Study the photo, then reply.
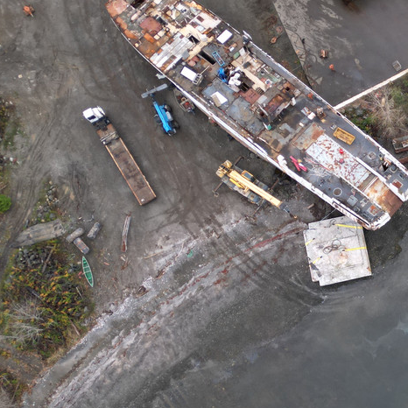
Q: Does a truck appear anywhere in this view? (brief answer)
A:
Yes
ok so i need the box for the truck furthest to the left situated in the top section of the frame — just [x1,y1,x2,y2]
[82,106,155,205]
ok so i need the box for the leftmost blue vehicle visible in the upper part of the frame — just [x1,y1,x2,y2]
[141,88,176,135]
